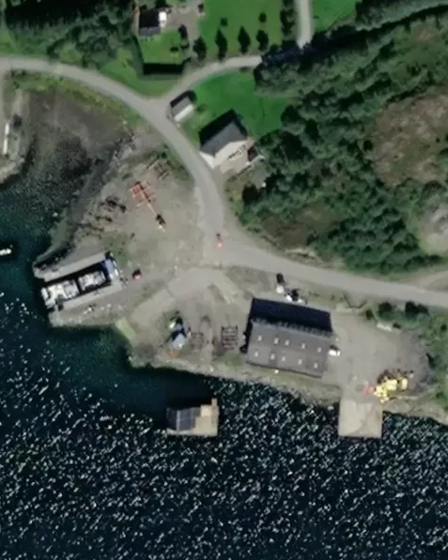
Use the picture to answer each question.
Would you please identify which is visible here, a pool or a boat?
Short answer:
boat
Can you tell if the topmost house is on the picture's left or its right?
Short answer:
left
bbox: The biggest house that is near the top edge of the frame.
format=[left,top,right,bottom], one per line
[139,10,161,35]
